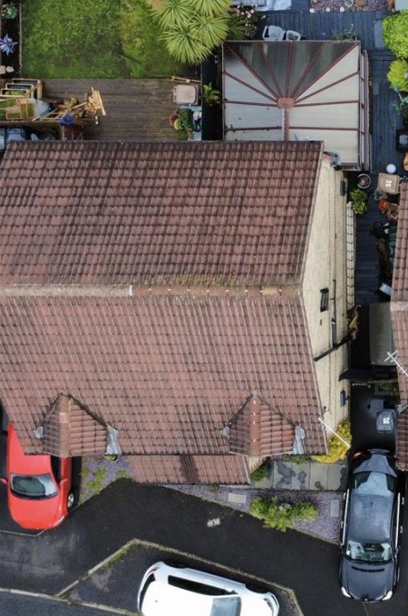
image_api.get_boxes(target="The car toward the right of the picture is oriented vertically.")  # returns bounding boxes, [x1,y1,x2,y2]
[334,449,405,600]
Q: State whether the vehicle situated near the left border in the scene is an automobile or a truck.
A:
automobile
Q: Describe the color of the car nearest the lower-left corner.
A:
red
